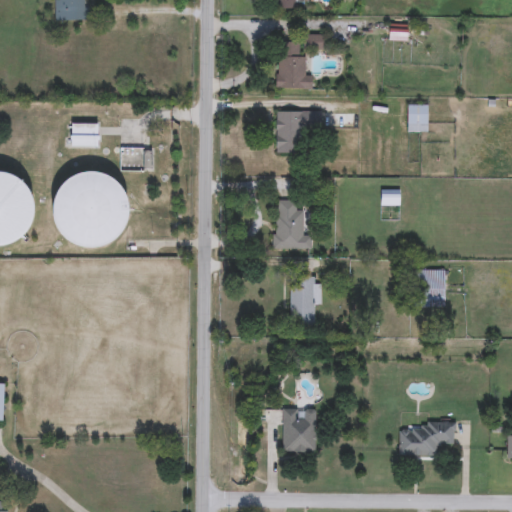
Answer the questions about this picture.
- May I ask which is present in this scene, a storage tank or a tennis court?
storage tank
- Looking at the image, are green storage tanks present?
No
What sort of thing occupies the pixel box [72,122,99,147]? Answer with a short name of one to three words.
building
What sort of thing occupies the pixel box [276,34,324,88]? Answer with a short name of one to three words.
house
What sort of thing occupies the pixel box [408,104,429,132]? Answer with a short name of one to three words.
barn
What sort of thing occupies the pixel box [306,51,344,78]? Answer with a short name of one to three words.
swimming pool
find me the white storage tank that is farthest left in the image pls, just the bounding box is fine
[0,171,36,247]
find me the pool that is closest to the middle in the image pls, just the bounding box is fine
[296,373,322,407]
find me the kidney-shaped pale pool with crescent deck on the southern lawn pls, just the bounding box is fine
[406,382,435,400]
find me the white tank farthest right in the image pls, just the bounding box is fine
[53,171,130,247]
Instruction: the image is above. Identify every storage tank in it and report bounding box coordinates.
[53,171,130,247]
[0,171,36,247]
